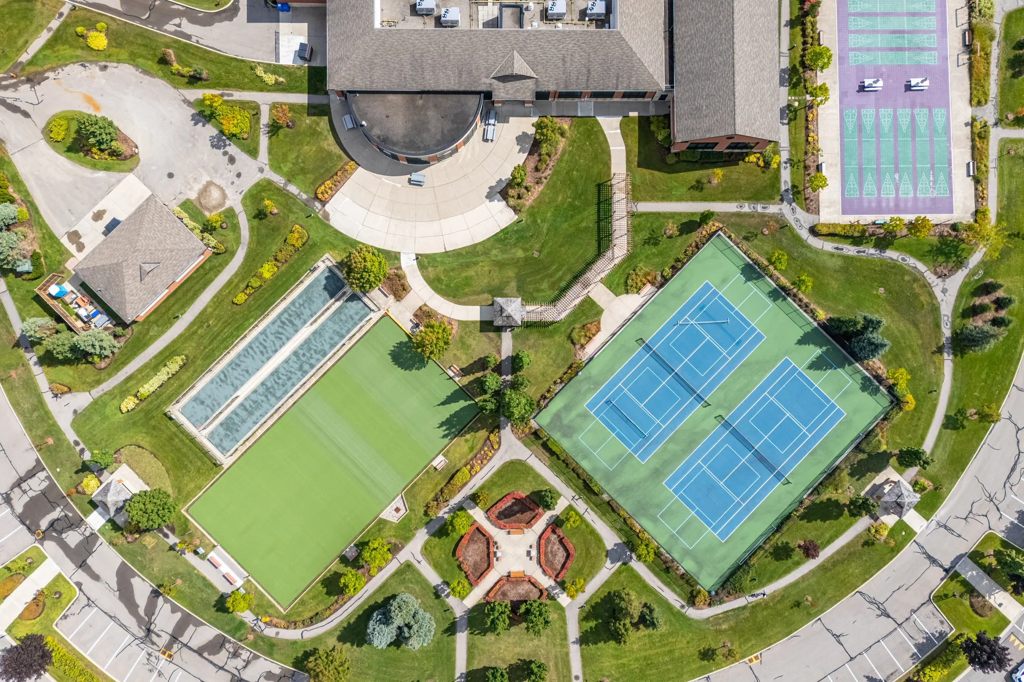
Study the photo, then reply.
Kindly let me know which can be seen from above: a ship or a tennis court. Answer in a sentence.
The one in the frame is a tennis court.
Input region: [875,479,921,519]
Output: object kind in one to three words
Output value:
building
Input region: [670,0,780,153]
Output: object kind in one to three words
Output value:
building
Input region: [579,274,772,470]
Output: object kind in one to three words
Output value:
tennis court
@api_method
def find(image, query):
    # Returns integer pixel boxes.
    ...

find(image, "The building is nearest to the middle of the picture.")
[493,297,522,326]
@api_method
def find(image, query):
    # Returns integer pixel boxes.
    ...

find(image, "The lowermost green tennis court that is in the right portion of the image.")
[532,228,899,594]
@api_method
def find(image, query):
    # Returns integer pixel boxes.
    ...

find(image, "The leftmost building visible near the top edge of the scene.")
[273,0,674,161]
